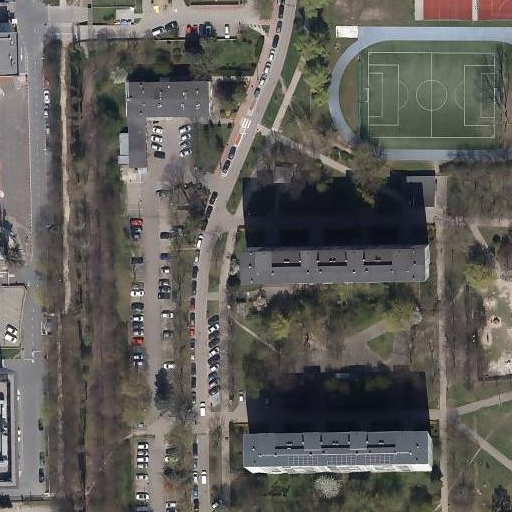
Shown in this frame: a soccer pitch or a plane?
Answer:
soccer pitch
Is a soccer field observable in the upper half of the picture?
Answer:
Yes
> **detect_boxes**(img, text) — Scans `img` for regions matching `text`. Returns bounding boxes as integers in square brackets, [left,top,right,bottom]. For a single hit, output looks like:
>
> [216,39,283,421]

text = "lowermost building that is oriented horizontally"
[244,431,431,472]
